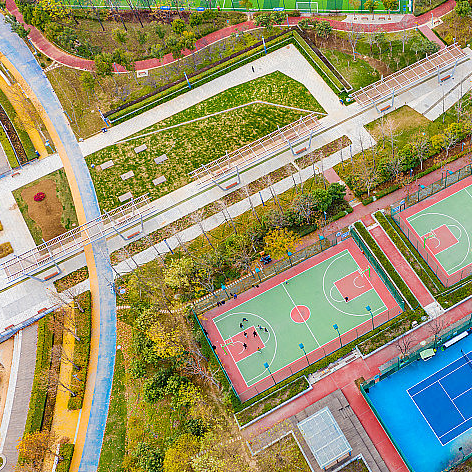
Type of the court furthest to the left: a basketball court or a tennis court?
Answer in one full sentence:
The court furthest to the left can be classified as a basketball court.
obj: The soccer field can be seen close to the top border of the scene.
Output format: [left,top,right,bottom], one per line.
[0,0,413,16]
